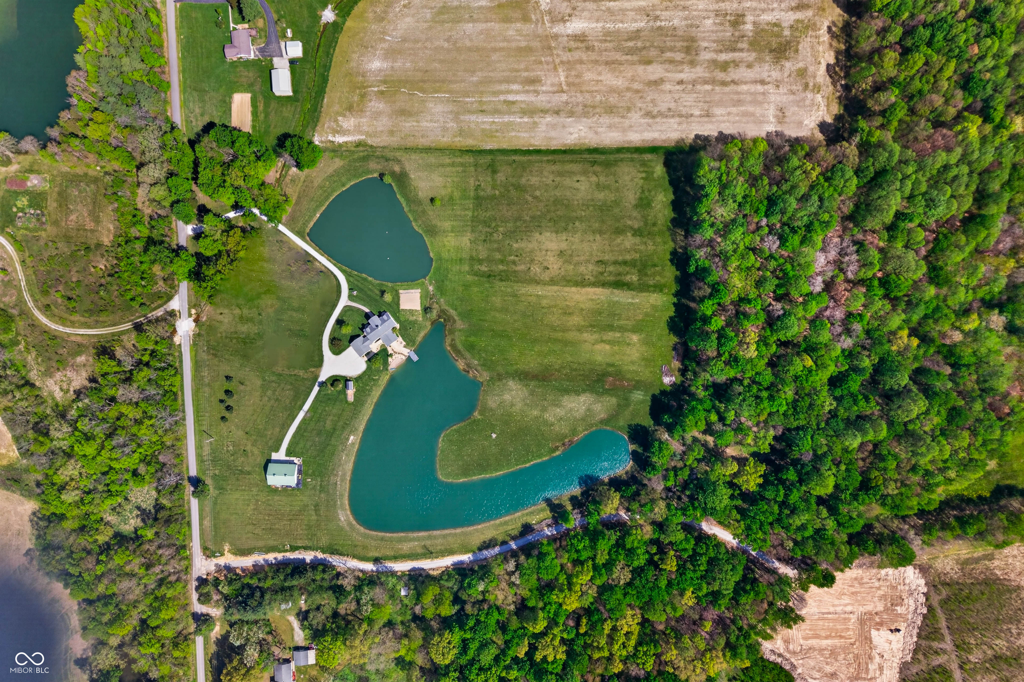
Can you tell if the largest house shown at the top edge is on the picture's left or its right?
left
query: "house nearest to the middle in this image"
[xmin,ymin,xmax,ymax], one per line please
[351,312,400,359]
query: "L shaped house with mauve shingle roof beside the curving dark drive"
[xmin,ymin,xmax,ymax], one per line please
[224,29,262,61]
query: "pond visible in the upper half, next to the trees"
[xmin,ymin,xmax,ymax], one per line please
[308,177,433,283]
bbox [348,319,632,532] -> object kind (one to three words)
pond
